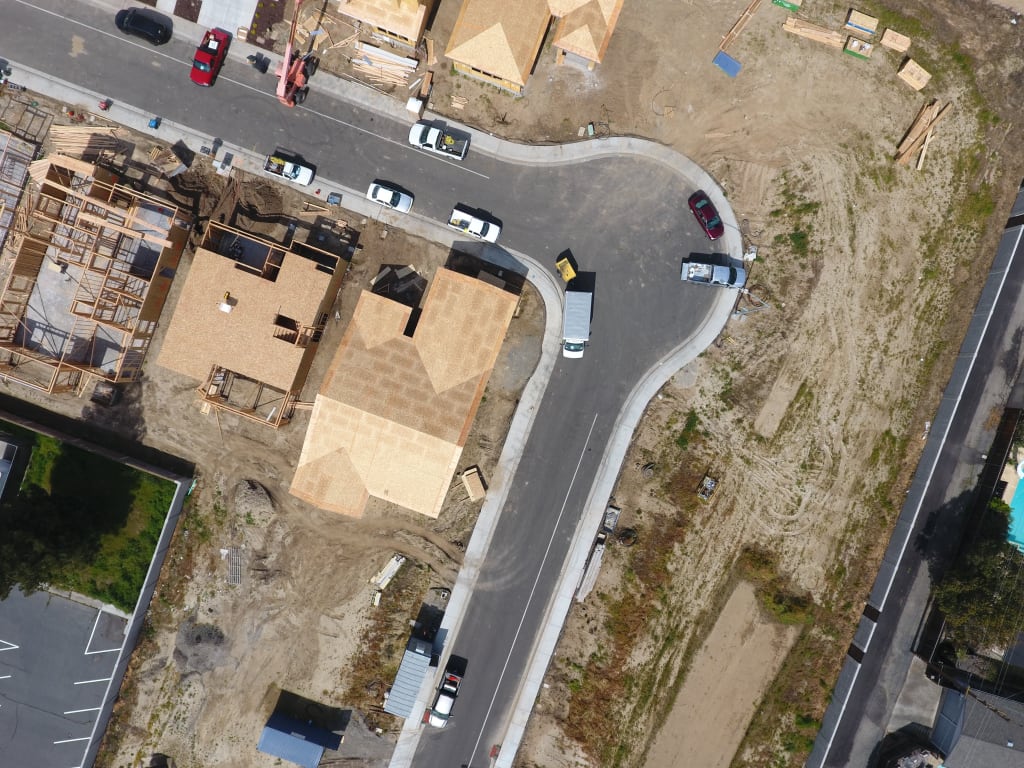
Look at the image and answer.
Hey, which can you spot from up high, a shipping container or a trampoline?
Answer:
shipping container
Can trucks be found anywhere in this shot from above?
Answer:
Yes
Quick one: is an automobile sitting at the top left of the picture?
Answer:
Yes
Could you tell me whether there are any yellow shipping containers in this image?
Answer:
No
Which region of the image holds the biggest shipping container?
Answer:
bottom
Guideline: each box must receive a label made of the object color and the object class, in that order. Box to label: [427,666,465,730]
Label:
white truck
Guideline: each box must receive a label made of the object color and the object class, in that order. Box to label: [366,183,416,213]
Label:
white car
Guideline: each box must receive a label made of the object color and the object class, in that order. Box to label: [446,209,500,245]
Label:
white truck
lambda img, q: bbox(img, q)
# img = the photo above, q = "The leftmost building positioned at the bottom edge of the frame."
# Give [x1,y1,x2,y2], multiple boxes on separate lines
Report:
[258,711,346,768]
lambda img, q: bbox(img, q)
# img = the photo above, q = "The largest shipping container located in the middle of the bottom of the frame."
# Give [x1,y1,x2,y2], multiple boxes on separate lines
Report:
[384,640,433,721]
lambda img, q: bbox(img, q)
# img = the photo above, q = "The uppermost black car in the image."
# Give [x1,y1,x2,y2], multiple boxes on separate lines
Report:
[116,10,172,46]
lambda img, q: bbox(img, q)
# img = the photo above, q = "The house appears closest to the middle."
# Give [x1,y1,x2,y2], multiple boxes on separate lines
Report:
[291,265,517,518]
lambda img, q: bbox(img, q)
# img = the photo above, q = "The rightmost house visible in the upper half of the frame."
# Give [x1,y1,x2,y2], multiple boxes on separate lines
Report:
[553,0,627,73]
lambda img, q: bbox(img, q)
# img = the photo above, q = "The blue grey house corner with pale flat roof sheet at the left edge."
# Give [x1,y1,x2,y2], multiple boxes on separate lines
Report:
[0,435,35,503]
